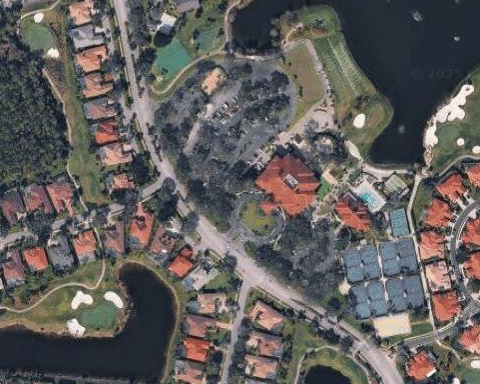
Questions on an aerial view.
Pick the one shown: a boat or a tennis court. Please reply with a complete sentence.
There is a tennis court in the scene.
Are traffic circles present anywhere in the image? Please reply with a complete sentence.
Yes, a traffic circle is visible in the scene.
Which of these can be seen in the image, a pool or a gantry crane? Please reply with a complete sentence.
I can see a pool in this picture.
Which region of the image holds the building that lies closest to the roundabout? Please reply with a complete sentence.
The building that lies closest to the roundabout sits in the center section of the image.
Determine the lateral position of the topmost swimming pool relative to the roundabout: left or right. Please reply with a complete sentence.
The topmost swimming pool appears to the right of the roundabout in this view.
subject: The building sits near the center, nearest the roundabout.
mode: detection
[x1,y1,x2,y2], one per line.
[251,150,324,220]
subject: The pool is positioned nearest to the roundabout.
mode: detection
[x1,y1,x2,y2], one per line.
[353,180,385,212]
